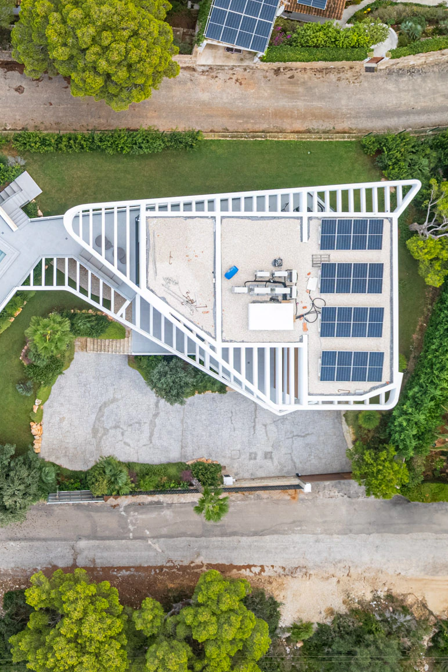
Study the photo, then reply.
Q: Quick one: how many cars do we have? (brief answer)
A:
0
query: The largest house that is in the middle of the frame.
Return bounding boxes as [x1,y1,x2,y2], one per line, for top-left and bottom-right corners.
[15,180,421,415]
